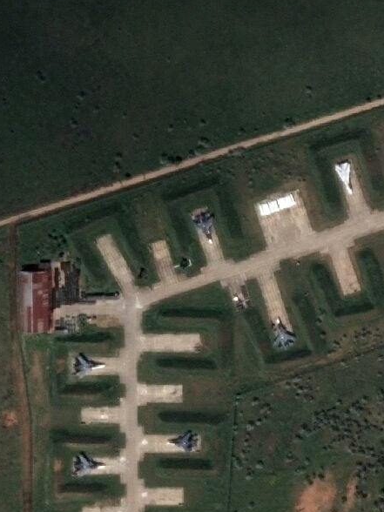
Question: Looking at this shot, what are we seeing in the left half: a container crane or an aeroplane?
aeroplane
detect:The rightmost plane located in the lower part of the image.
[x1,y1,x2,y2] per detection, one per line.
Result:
[273,319,293,350]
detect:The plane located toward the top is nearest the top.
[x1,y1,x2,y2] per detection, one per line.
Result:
[335,161,350,193]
